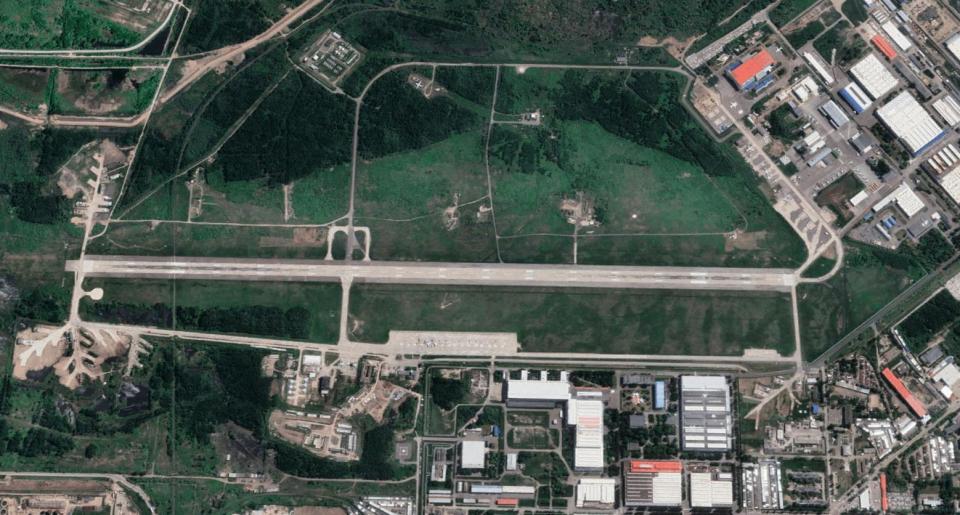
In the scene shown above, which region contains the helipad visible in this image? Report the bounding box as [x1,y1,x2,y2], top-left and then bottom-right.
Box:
[397,443,411,460]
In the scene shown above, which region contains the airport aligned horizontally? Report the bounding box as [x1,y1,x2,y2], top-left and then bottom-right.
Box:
[19,62,844,387]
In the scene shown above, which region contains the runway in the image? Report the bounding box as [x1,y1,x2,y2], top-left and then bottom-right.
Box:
[65,260,798,285]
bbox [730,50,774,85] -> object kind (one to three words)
building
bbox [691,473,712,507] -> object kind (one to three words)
building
